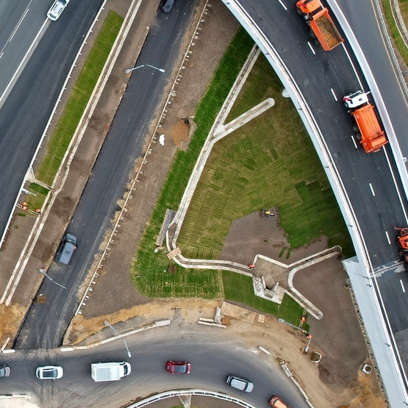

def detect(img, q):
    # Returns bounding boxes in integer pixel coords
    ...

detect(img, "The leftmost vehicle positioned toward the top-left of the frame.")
[46,0,68,22]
